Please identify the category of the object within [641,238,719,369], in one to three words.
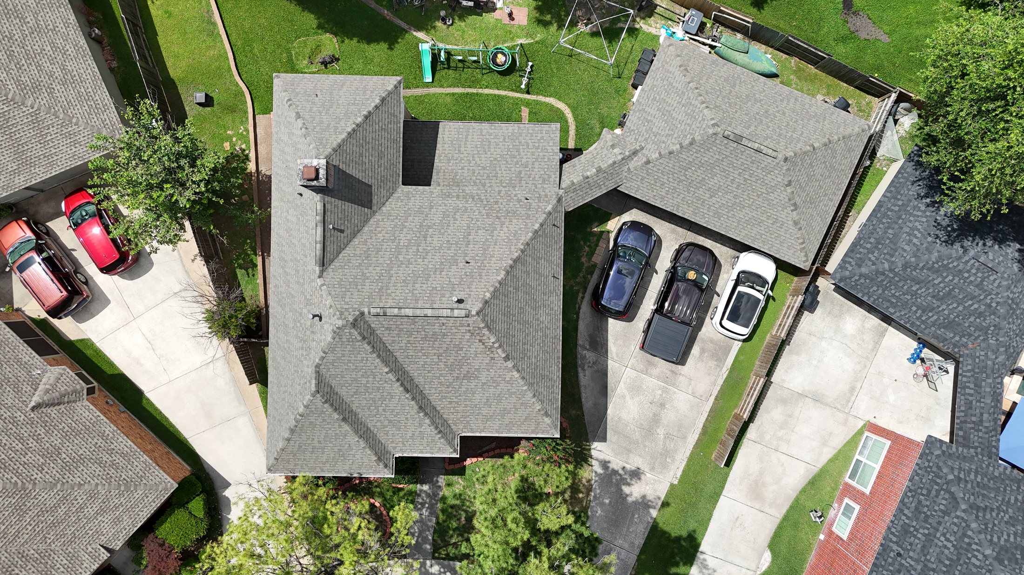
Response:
truck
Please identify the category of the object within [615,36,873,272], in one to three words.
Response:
building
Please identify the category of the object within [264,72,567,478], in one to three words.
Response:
house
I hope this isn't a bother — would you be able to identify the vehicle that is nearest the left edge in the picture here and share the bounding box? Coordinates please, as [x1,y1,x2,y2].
[0,213,87,319]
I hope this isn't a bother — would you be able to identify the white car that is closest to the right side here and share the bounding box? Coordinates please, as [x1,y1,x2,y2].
[713,248,780,347]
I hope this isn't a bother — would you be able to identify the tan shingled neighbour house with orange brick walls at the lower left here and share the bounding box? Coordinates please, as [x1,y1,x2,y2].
[0,310,188,575]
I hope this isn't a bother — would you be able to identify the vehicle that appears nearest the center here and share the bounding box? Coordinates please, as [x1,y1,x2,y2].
[591,216,658,324]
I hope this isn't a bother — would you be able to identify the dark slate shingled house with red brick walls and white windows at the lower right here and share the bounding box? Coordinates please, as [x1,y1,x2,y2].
[810,426,1024,575]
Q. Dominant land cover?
buildings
